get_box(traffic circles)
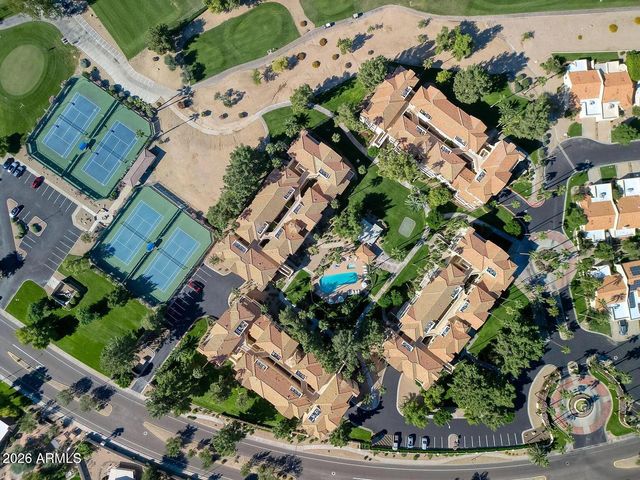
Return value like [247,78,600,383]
[551,376,613,436]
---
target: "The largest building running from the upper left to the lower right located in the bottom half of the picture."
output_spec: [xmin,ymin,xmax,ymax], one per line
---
[196,299,361,442]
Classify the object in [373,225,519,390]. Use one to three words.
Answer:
building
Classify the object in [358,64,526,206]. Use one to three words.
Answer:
building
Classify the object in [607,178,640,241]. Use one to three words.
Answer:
house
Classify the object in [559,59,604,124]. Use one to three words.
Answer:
house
